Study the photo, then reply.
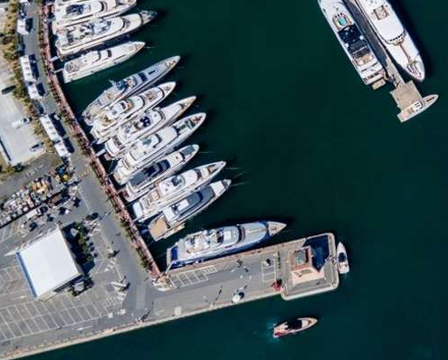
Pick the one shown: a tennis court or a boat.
boat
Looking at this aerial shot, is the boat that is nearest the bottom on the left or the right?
right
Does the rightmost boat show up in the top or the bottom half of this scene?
top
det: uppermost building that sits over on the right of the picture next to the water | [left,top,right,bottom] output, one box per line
[286,245,324,286]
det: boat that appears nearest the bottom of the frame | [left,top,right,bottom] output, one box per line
[272,319,316,342]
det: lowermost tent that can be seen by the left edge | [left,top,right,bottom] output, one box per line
[17,228,88,302]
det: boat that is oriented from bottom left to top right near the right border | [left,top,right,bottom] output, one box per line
[396,97,437,125]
